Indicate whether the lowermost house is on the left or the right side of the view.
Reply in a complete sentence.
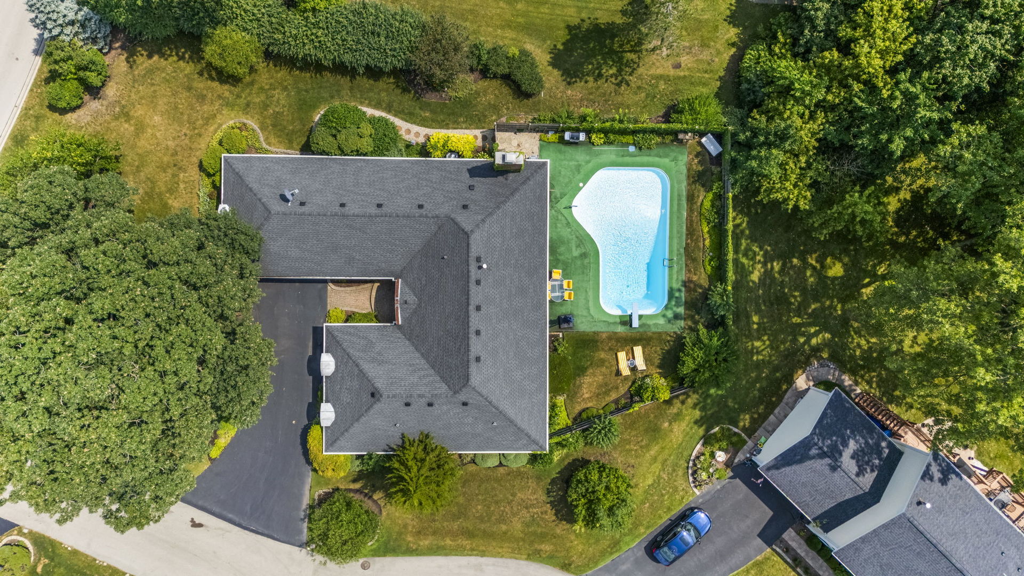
You can find the lowermost house on the right side of the picture.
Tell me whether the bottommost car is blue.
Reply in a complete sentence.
Yes, blue is the color of the bottommost car.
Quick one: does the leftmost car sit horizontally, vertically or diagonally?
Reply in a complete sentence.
The leftmost car is oriented diagonally.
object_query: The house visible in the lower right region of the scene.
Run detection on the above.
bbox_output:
[749,387,1024,576]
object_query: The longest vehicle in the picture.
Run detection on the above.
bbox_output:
[653,508,711,566]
